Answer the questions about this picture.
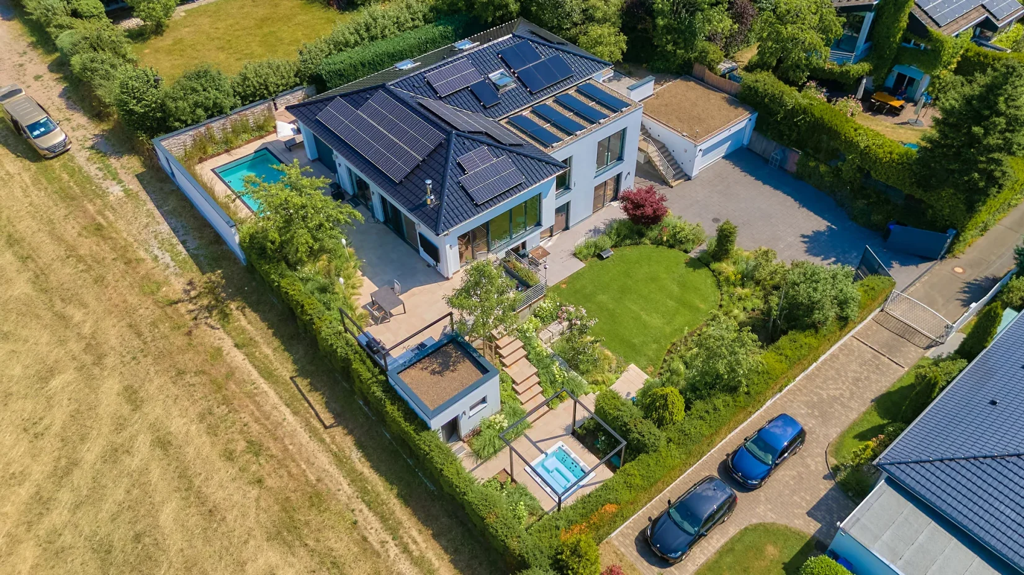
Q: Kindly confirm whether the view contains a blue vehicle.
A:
Yes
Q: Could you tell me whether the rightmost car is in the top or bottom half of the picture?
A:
bottom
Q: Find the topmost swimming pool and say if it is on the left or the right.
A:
left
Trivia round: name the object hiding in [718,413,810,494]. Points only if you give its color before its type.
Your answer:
blue car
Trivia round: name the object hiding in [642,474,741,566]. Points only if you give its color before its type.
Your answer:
blue car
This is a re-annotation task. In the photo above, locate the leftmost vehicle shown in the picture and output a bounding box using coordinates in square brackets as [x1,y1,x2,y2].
[0,95,71,164]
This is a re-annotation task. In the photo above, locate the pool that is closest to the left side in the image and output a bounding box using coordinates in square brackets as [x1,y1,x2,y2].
[208,145,312,217]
